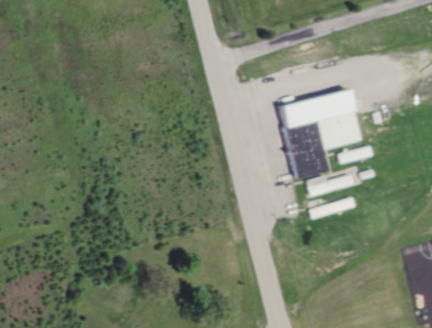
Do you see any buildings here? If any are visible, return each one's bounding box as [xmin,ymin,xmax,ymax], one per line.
[279,89,364,180]
[309,175,354,196]
[310,196,356,218]
[338,146,373,164]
